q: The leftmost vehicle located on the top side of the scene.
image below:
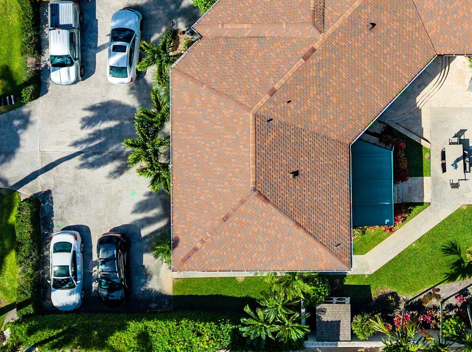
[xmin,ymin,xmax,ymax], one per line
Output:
[42,0,86,85]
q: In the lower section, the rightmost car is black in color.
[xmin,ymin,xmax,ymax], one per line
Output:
[92,230,130,306]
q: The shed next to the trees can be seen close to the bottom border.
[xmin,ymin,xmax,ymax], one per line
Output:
[316,294,351,341]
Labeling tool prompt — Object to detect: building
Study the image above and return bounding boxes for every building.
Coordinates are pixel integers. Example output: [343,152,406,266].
[168,0,472,275]
[316,294,351,341]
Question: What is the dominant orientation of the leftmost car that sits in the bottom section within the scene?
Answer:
vertically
